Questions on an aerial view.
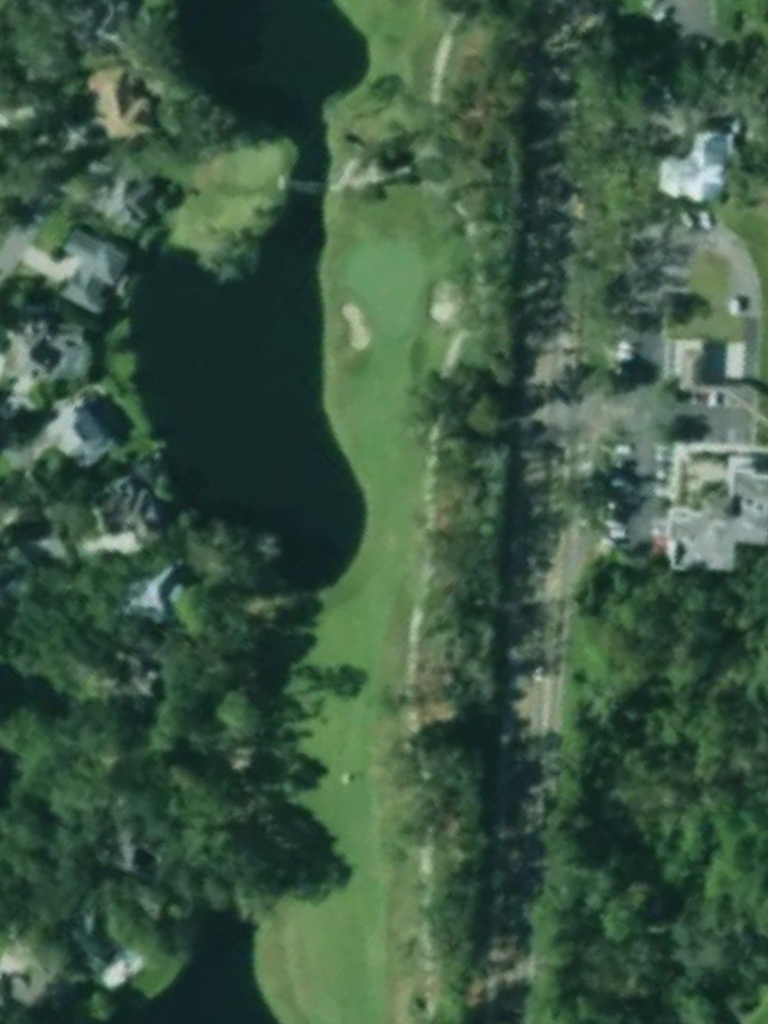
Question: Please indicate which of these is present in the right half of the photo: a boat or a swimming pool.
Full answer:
What appears in the right half of the photo is a swimming pool.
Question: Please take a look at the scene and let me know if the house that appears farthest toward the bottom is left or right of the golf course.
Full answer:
The golf course has the house that appears farthest toward the bottom on its left side.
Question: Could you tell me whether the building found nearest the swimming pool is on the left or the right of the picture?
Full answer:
The building found nearest the swimming pool appears in the right half of the scene.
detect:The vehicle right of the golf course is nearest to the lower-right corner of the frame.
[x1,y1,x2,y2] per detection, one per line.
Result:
[532,667,545,684]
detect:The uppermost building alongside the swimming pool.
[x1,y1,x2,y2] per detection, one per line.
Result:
[676,340,703,382]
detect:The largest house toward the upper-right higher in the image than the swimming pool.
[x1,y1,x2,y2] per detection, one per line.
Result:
[659,127,736,205]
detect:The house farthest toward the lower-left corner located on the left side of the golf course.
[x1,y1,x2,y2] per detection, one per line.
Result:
[69,919,145,993]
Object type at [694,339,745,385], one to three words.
swimming pool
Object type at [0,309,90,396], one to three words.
house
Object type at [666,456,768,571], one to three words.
building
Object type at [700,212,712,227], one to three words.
vehicle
